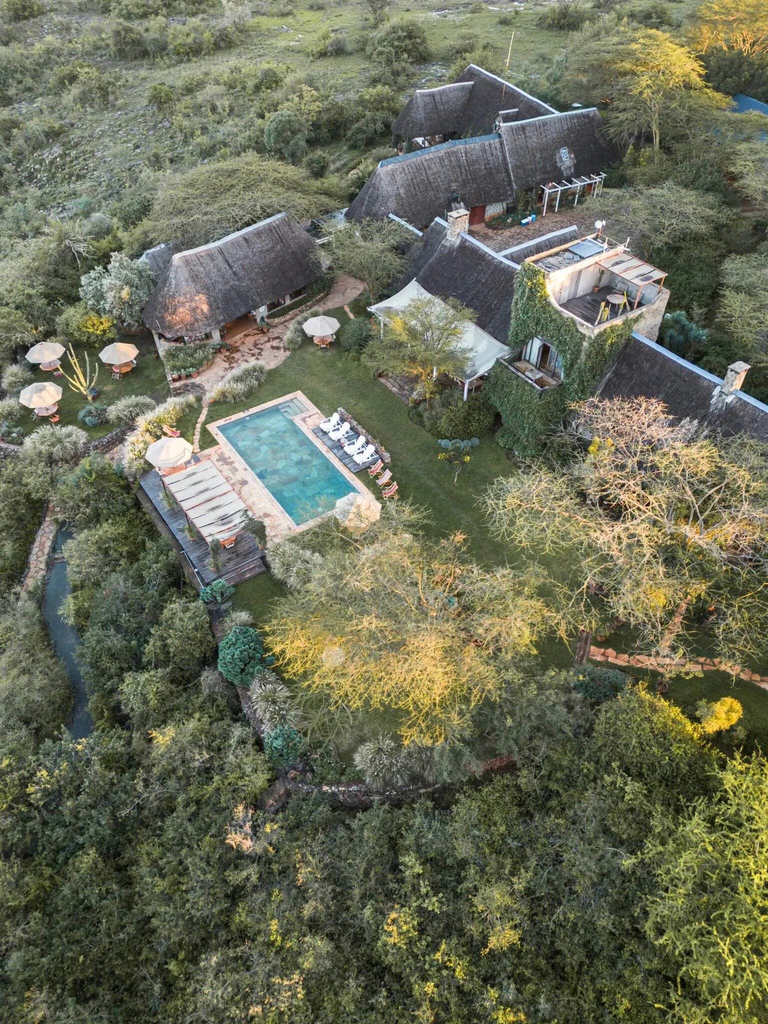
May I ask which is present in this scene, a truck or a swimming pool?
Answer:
swimming pool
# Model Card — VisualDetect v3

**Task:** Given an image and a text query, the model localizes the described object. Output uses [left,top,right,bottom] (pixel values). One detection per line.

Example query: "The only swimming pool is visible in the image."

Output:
[205,390,375,537]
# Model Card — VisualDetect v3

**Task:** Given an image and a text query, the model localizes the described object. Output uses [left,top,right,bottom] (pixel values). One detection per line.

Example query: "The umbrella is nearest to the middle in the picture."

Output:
[334,498,382,534]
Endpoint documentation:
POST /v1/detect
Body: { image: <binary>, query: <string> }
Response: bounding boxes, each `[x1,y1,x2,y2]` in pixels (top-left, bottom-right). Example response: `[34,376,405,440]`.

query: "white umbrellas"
[302,320,340,346]
[21,387,64,416]
[26,346,68,374]
[100,346,140,374]
[147,442,193,474]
